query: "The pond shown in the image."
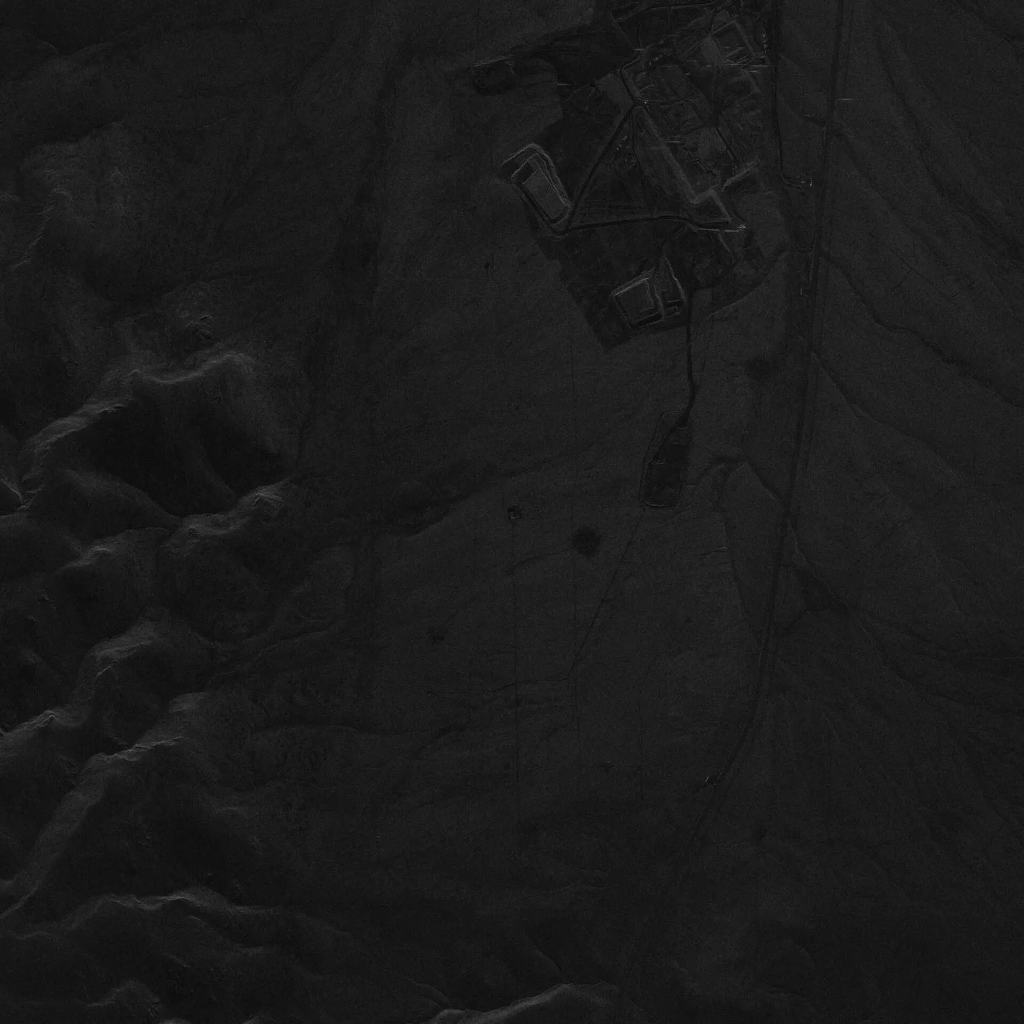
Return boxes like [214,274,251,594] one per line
[647,429,690,504]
